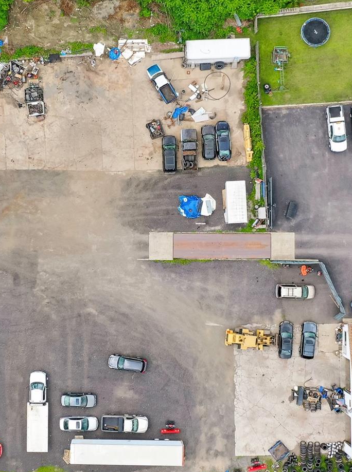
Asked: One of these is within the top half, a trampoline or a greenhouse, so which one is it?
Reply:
trampoline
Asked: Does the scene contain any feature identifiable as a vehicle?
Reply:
Yes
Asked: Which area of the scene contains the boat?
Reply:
center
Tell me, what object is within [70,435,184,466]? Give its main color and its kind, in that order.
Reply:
white trailer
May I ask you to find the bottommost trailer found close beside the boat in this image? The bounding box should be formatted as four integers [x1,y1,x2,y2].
[221,181,246,223]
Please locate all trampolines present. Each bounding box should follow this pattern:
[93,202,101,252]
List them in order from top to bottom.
[301,15,331,46]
